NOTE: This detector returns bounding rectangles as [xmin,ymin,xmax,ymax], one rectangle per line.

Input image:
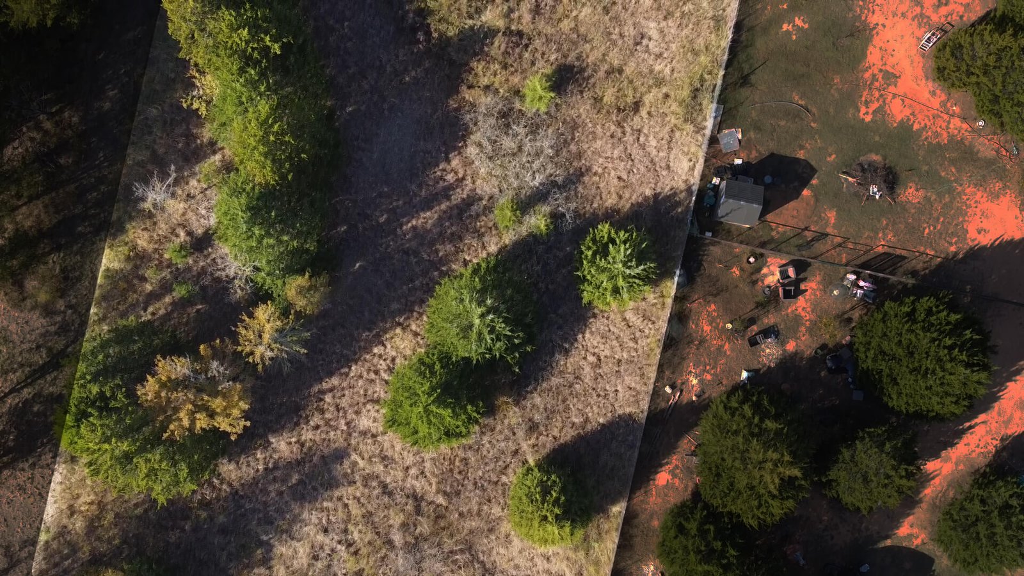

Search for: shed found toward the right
[707,181,762,228]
